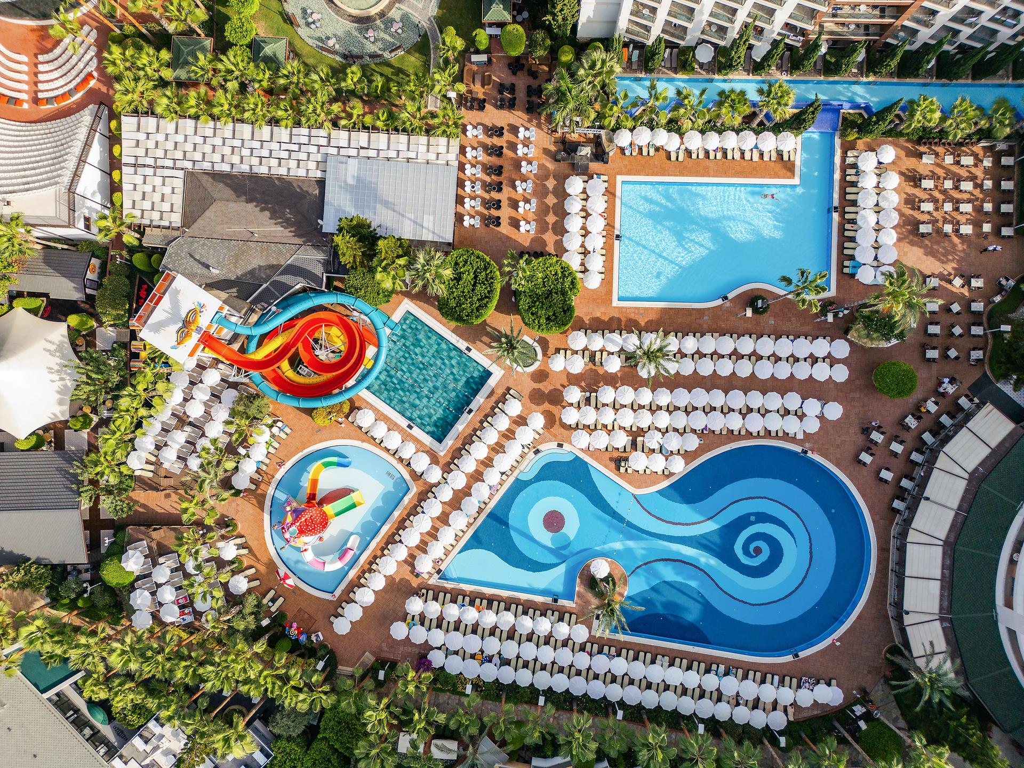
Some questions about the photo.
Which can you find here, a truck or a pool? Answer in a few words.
pool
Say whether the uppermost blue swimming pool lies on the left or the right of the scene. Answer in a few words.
right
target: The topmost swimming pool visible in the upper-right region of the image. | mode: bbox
[614,76,1024,134]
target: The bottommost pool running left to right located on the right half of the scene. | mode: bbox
[428,439,877,663]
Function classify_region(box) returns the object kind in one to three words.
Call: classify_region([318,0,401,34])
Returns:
fountain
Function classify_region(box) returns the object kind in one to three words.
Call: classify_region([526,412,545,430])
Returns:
umbrella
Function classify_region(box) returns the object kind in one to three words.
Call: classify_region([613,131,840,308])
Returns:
swimming pool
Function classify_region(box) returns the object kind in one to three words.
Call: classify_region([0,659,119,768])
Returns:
building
